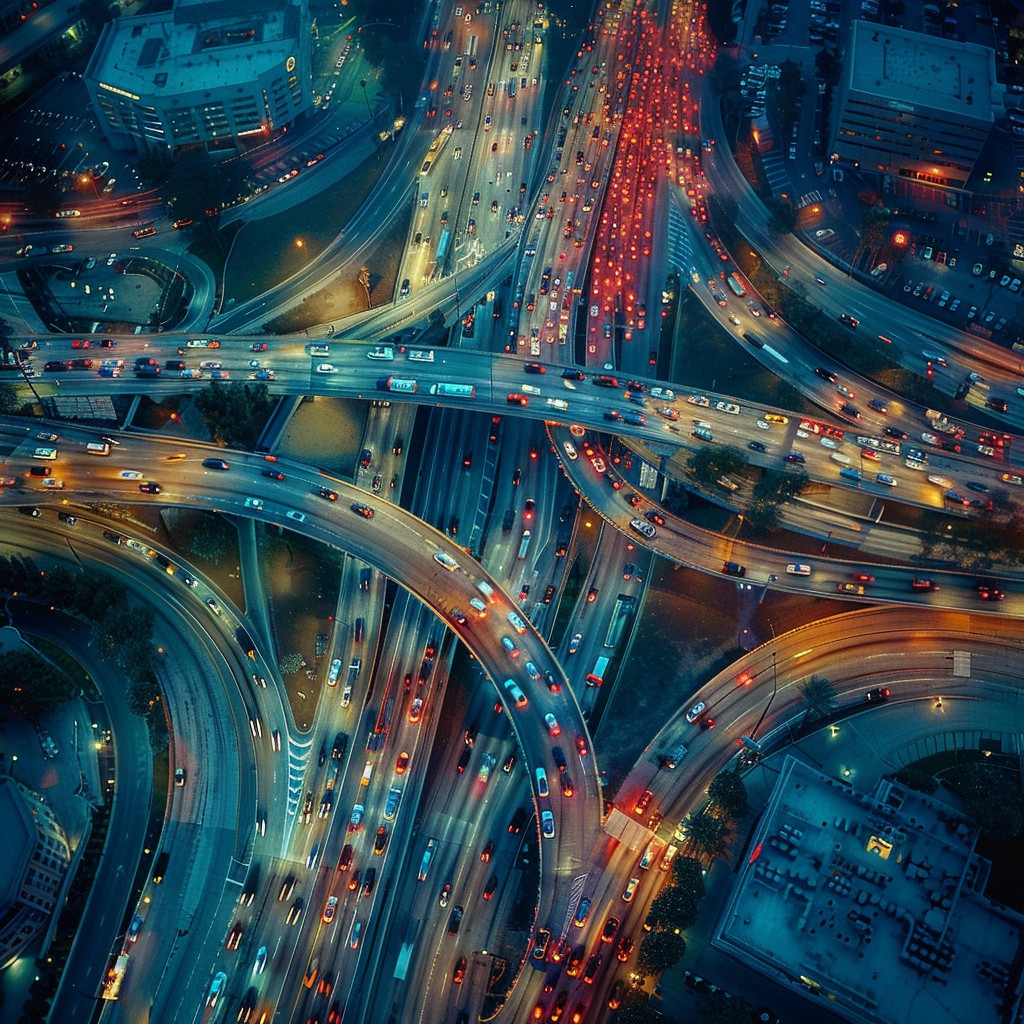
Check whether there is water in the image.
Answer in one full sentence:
No, no water is visible.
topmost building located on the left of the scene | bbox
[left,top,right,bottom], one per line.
[81,0,324,158]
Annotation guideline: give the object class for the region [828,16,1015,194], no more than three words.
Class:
building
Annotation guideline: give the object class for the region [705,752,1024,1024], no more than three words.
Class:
building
